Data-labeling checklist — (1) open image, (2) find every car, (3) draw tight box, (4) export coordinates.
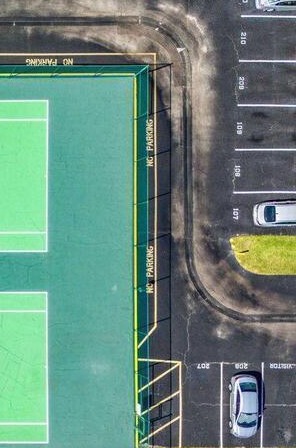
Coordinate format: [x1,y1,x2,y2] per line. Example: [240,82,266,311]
[253,200,296,227]
[227,374,261,438]
[256,0,296,12]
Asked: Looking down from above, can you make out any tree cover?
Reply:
No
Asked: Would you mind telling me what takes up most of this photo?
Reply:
paved ground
